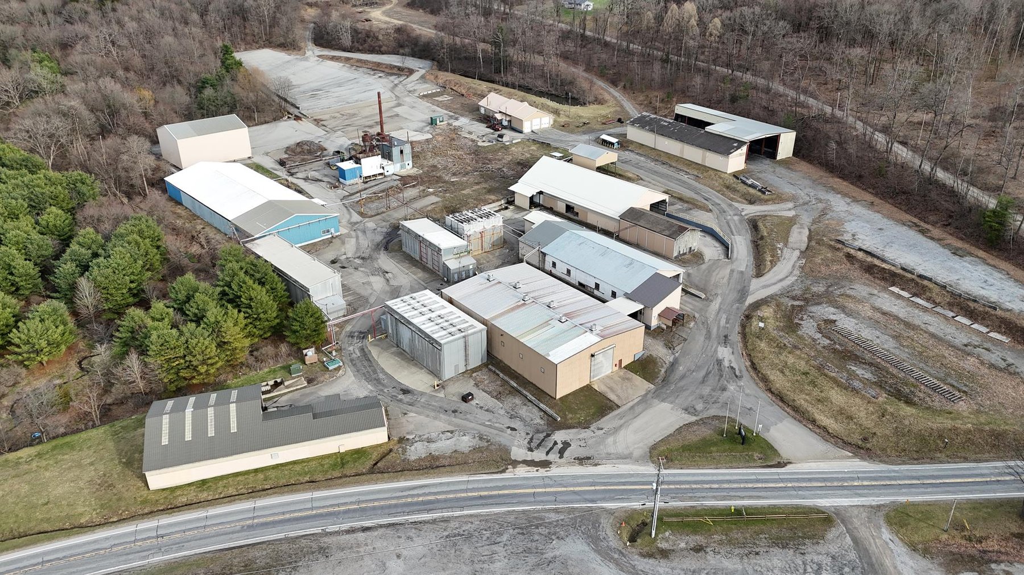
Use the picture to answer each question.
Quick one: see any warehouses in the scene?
Yes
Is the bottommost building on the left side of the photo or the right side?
left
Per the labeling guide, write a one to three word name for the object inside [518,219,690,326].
building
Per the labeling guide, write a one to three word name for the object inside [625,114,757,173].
shed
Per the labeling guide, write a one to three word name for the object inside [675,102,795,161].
barn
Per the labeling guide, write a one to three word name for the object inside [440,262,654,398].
warehouse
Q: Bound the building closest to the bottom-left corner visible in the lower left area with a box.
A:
[142,383,387,488]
